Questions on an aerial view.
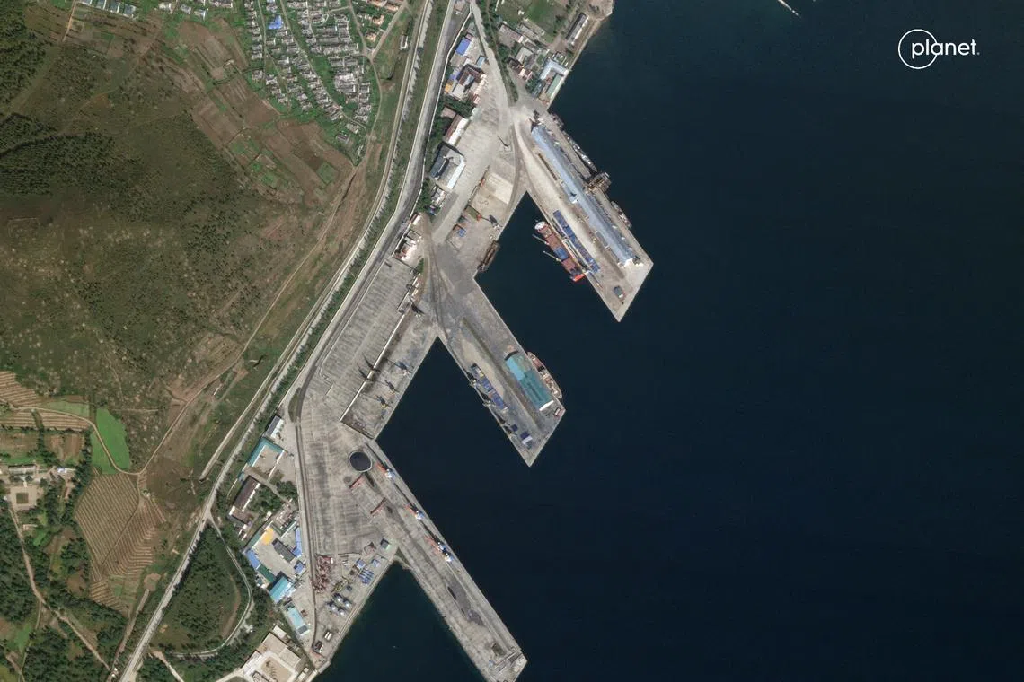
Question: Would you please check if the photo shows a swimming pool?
No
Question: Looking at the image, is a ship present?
Yes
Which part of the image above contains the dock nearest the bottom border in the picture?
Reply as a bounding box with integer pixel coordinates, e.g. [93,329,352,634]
[375,440,527,682]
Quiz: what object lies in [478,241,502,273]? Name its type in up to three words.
ship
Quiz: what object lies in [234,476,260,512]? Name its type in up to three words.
building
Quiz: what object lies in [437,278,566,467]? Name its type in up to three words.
pier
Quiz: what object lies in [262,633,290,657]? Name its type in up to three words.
building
